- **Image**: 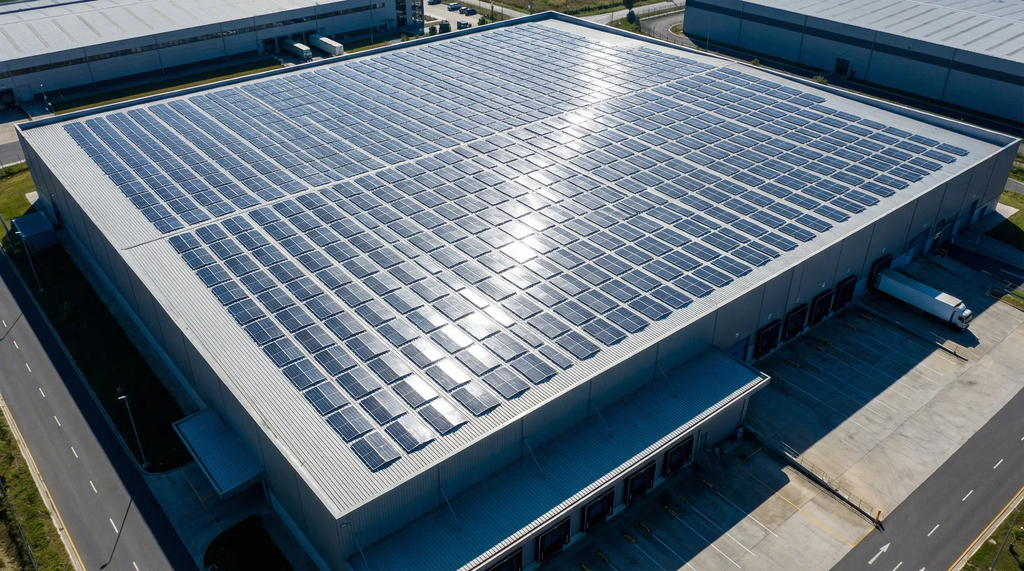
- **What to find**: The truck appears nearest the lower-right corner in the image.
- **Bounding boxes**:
[871,266,974,335]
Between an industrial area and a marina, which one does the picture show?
industrial area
